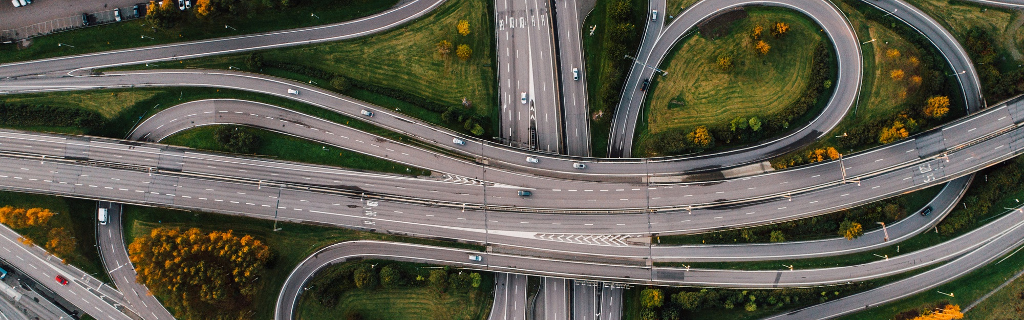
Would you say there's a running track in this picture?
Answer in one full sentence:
No, there appears to be no running track in this shot.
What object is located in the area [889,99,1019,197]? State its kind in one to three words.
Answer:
overpass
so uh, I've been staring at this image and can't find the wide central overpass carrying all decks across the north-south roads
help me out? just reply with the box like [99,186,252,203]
[483,139,652,285]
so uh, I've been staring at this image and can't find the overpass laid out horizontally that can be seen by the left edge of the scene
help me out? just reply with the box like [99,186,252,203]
[29,132,196,212]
